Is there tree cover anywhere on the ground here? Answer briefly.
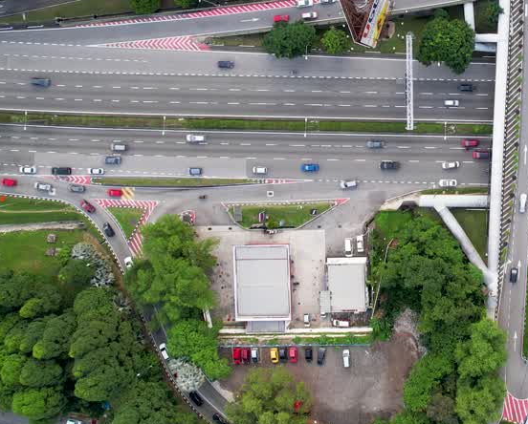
Yes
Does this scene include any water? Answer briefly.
No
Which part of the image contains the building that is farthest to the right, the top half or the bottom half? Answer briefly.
bottom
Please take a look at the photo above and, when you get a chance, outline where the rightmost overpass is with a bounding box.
[496,0,528,358]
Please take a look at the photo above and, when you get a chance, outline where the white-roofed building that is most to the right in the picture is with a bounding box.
[320,254,369,313]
